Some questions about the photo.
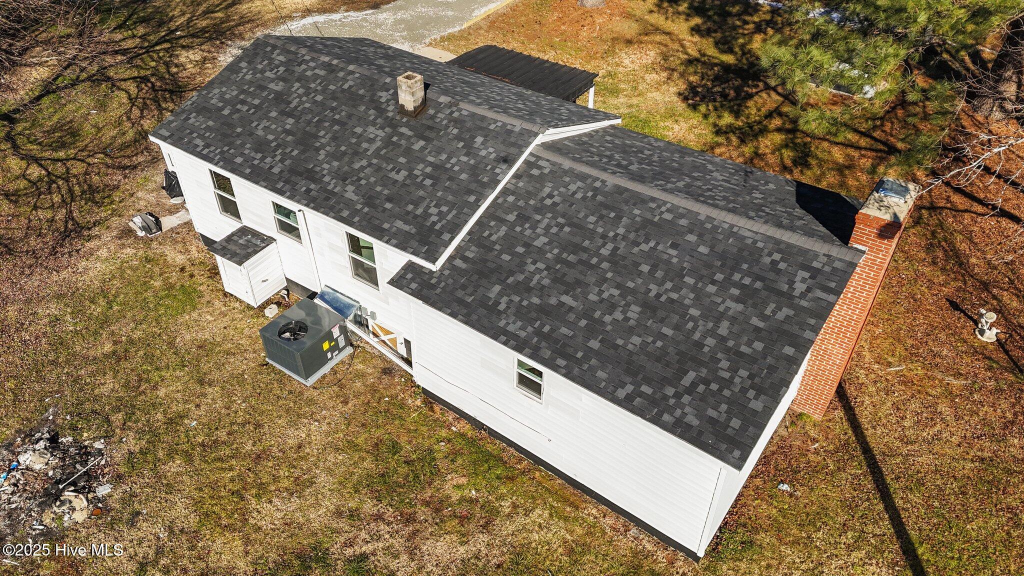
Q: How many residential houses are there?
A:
1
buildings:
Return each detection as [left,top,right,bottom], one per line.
[155,34,926,558]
